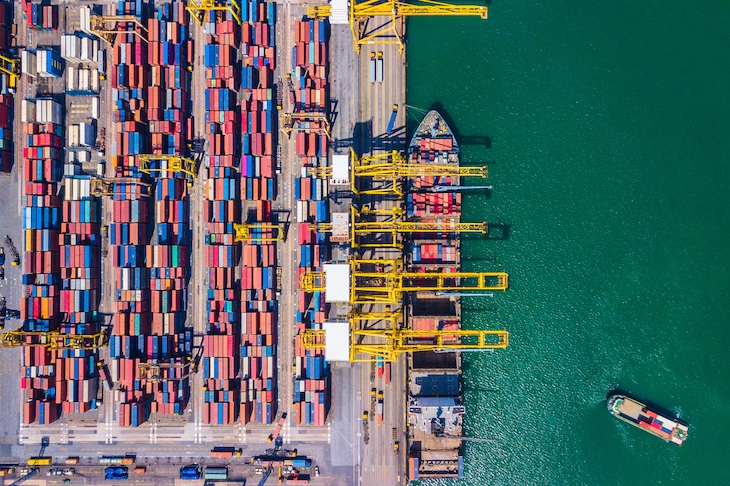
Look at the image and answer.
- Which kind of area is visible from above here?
port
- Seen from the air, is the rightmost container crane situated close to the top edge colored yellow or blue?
yellow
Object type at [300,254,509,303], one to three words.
container crane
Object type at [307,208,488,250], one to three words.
container crane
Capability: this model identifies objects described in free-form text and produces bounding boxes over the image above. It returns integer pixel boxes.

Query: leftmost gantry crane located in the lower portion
[0,326,61,348]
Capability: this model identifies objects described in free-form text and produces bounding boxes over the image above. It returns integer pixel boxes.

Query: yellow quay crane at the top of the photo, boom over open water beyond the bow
[305,0,488,59]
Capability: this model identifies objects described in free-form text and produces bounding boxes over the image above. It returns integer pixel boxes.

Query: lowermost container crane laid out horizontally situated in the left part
[138,354,196,381]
